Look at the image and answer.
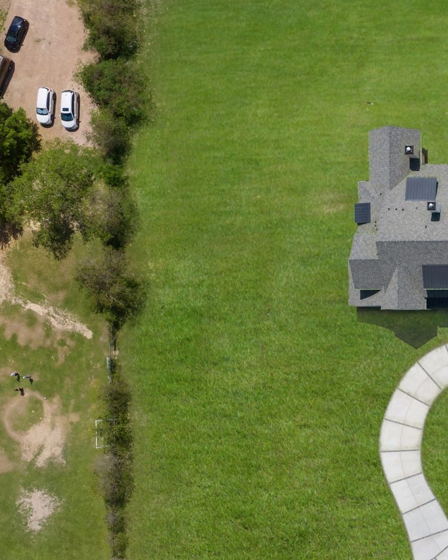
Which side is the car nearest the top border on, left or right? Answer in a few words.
left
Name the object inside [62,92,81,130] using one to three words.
car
